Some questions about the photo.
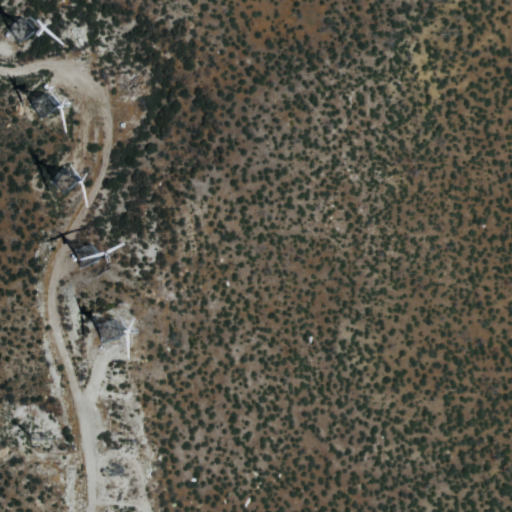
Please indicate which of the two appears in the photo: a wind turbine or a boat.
wind turbine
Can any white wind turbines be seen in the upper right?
No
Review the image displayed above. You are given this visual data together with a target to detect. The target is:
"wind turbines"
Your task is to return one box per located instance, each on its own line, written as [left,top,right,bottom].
[30,92,72,134]
[11,18,66,48]
[74,244,125,270]
[50,167,92,209]
[99,316,140,359]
